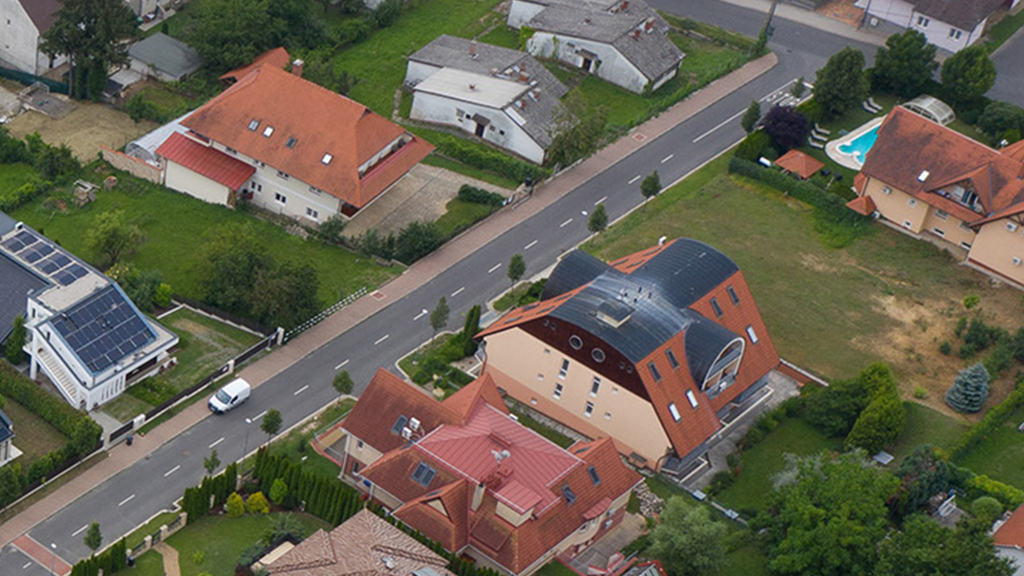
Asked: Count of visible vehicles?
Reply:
1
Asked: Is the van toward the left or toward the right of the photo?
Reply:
left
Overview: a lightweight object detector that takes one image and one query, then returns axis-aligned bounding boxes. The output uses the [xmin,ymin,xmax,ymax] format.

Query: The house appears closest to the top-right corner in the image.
[908,0,1005,55]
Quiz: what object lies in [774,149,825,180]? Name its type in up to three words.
gazebo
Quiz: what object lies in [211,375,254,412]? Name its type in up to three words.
van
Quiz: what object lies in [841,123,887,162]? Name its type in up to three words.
swimming pool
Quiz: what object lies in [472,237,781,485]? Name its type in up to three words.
house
